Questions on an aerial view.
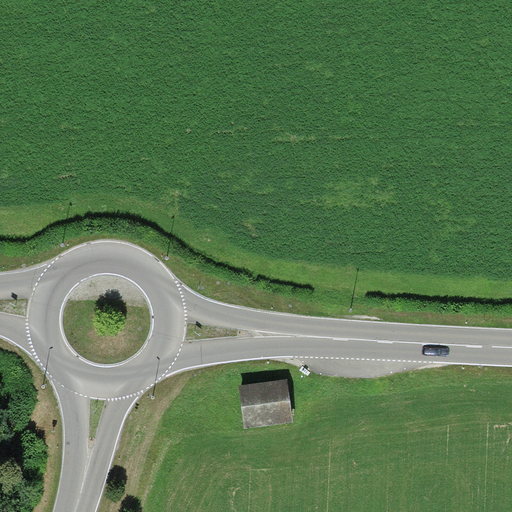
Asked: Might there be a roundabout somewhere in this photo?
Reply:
Yes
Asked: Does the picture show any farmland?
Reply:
Yes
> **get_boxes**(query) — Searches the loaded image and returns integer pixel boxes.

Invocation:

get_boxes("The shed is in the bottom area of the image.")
[239,380,293,430]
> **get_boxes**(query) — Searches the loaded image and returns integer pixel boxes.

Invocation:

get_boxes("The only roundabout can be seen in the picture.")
[26,239,188,400]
